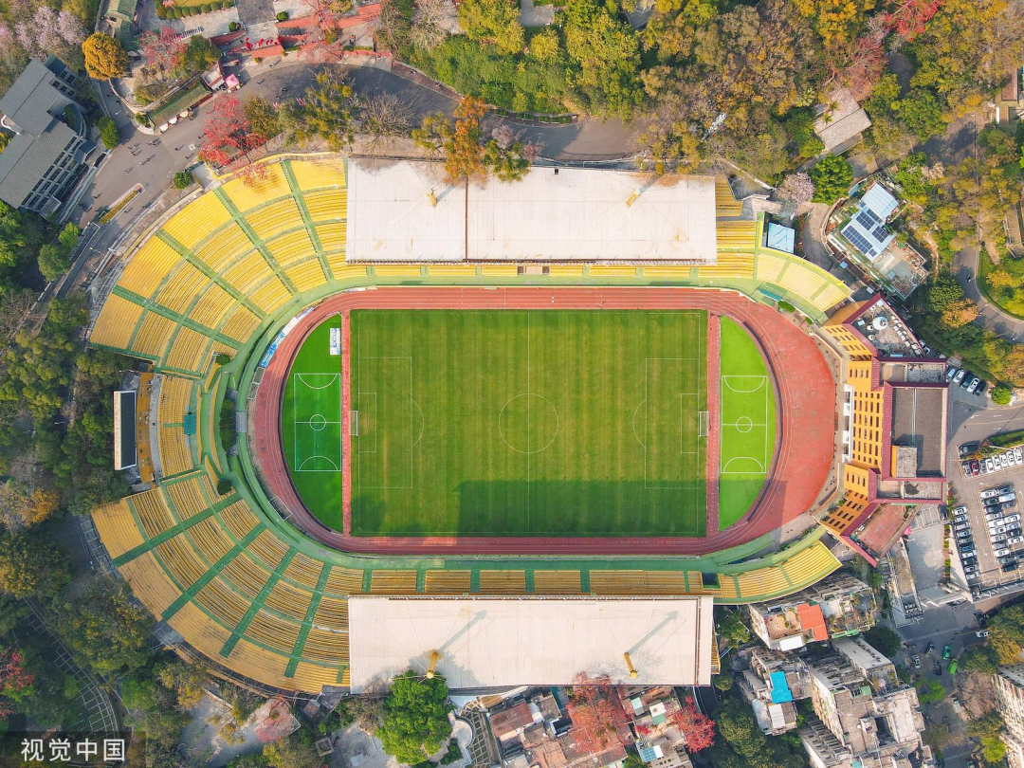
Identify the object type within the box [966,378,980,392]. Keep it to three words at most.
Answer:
car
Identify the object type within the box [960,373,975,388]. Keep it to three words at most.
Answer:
car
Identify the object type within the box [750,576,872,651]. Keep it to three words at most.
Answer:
building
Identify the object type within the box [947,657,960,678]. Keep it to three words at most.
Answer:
vehicle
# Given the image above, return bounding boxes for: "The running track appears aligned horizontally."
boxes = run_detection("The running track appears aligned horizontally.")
[255,289,836,555]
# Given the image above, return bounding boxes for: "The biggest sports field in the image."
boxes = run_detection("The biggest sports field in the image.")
[350,309,707,537]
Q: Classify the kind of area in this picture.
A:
sports ground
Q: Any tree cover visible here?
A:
Yes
